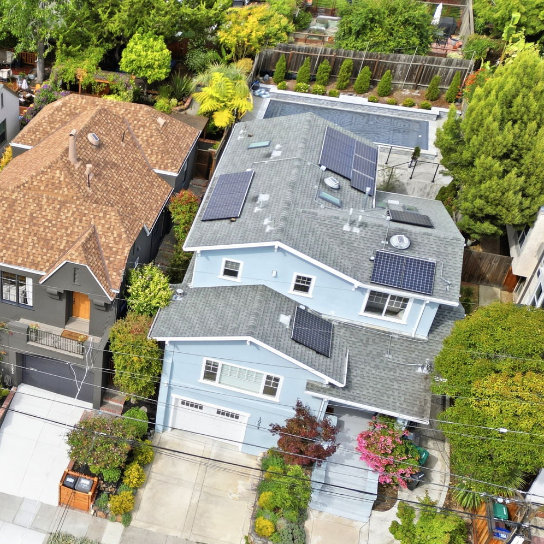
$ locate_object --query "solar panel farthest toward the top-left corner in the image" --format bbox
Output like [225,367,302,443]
[201,168,255,220]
